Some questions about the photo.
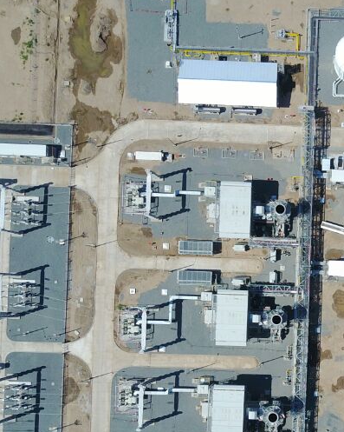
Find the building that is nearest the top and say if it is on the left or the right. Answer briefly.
right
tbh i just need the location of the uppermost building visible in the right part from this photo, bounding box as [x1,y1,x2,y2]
[176,56,279,113]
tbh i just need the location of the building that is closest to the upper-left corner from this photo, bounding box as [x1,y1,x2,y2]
[0,141,54,162]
